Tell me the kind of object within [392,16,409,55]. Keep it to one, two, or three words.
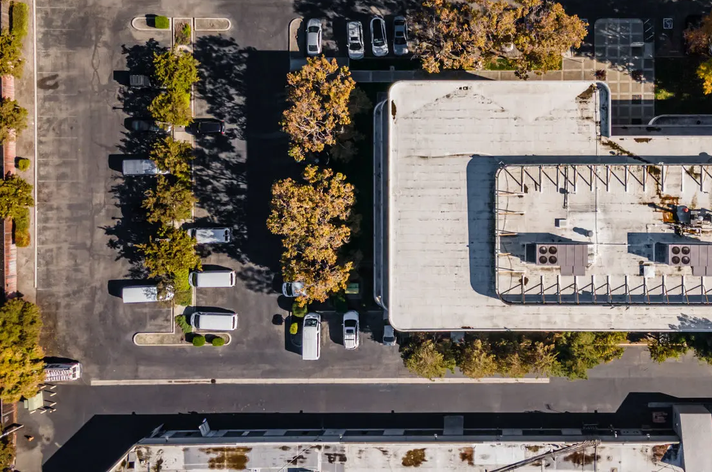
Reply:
car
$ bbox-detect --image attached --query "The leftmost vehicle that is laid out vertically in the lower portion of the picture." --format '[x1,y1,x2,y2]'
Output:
[301,312,321,363]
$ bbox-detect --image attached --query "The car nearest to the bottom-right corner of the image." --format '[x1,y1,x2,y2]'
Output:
[381,315,398,347]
